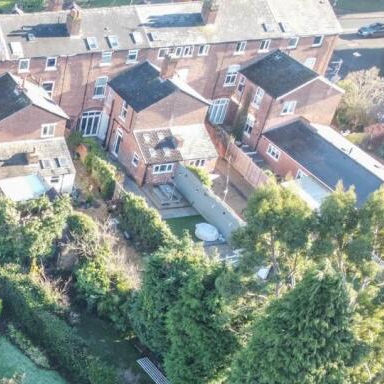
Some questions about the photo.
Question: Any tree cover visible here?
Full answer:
Yes, some tree cover is visible.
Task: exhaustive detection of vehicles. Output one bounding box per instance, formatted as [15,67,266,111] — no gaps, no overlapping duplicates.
[358,21,384,39]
